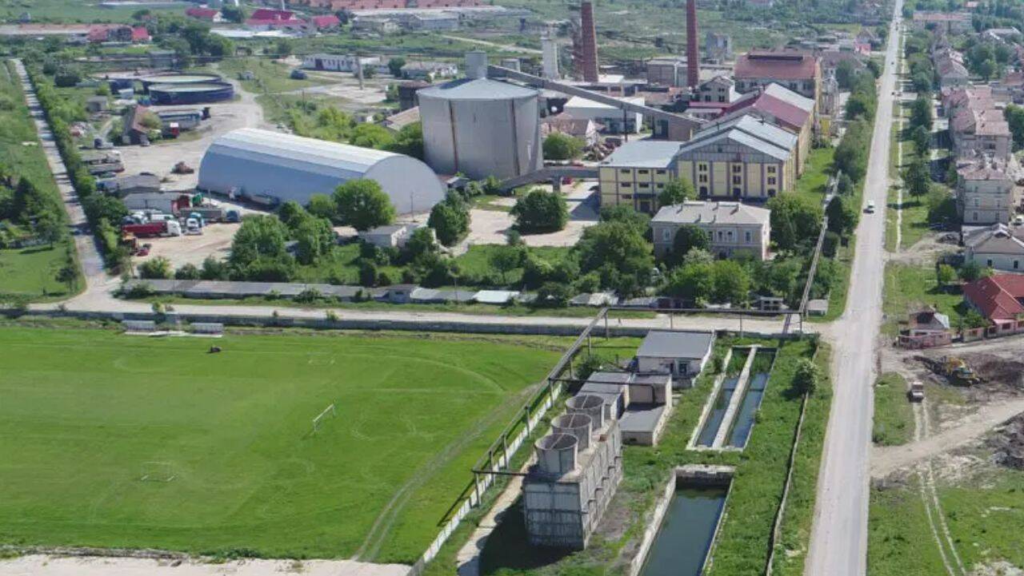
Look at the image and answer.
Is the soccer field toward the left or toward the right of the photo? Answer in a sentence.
You can find the soccer field on the left side of the picture.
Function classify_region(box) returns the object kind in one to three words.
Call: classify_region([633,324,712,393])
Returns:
building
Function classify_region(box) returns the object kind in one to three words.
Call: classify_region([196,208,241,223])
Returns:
vehicle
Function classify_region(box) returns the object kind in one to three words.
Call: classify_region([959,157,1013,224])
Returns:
house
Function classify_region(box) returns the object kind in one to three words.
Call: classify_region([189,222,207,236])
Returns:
vehicle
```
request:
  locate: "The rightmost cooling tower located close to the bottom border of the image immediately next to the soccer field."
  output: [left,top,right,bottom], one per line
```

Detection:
[520,397,623,556]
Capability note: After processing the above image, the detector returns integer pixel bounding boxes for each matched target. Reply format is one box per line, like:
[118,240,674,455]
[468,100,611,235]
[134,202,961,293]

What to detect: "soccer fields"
[0,327,570,568]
